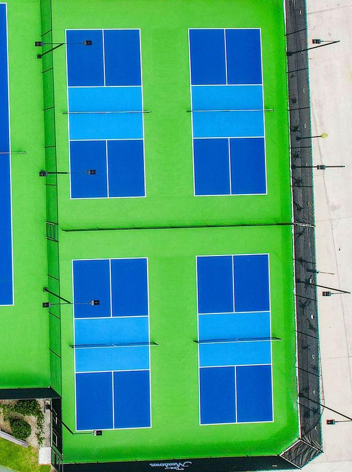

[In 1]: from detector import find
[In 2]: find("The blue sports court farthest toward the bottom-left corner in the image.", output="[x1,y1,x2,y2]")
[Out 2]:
[72,258,153,431]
